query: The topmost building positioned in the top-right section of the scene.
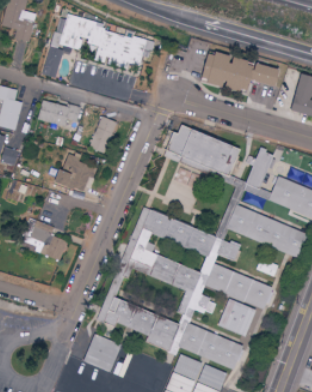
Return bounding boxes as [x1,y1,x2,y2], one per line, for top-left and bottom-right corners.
[202,52,278,90]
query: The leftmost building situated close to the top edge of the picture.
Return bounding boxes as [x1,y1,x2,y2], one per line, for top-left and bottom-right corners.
[2,0,36,42]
